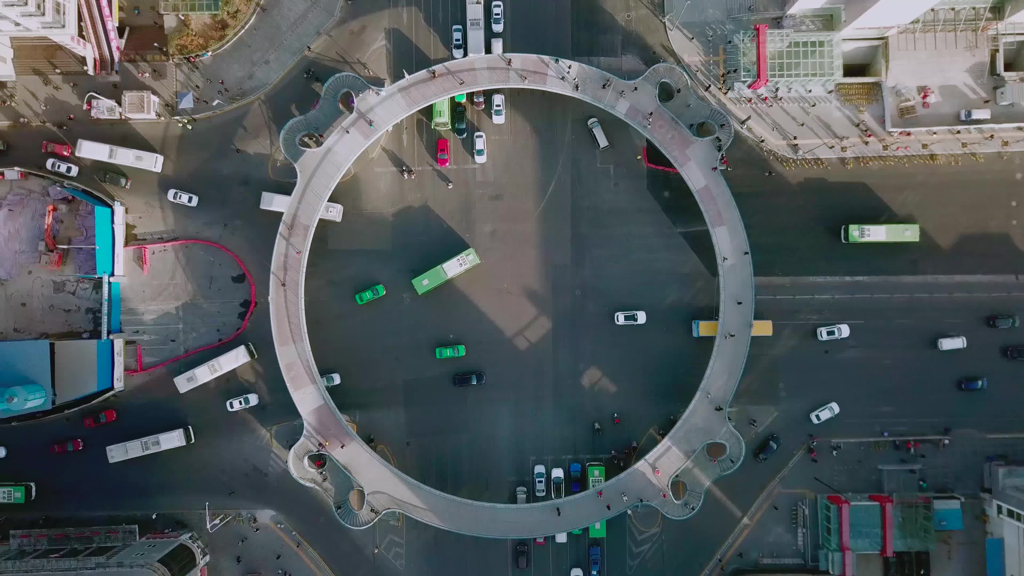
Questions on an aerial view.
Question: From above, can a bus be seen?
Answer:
Yes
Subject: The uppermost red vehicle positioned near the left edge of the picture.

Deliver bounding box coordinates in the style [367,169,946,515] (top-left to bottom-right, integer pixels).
[42,140,74,156]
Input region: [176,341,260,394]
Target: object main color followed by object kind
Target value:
white bus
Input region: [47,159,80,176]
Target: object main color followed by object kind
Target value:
white car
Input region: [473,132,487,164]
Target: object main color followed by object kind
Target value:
white car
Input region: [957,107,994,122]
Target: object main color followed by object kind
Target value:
white vehicle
